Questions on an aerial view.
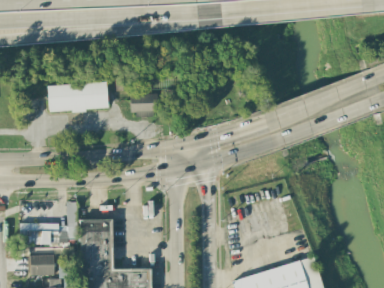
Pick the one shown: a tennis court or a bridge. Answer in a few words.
bridge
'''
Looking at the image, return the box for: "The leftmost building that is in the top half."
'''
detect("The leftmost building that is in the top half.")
[47,81,110,112]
